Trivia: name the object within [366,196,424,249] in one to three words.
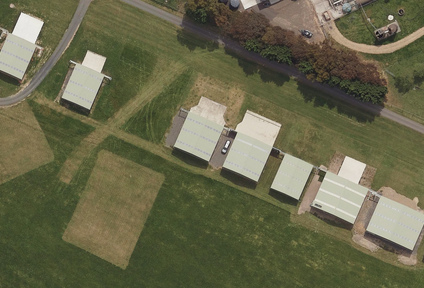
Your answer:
shed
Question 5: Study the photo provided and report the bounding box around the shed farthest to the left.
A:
[0,32,36,79]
